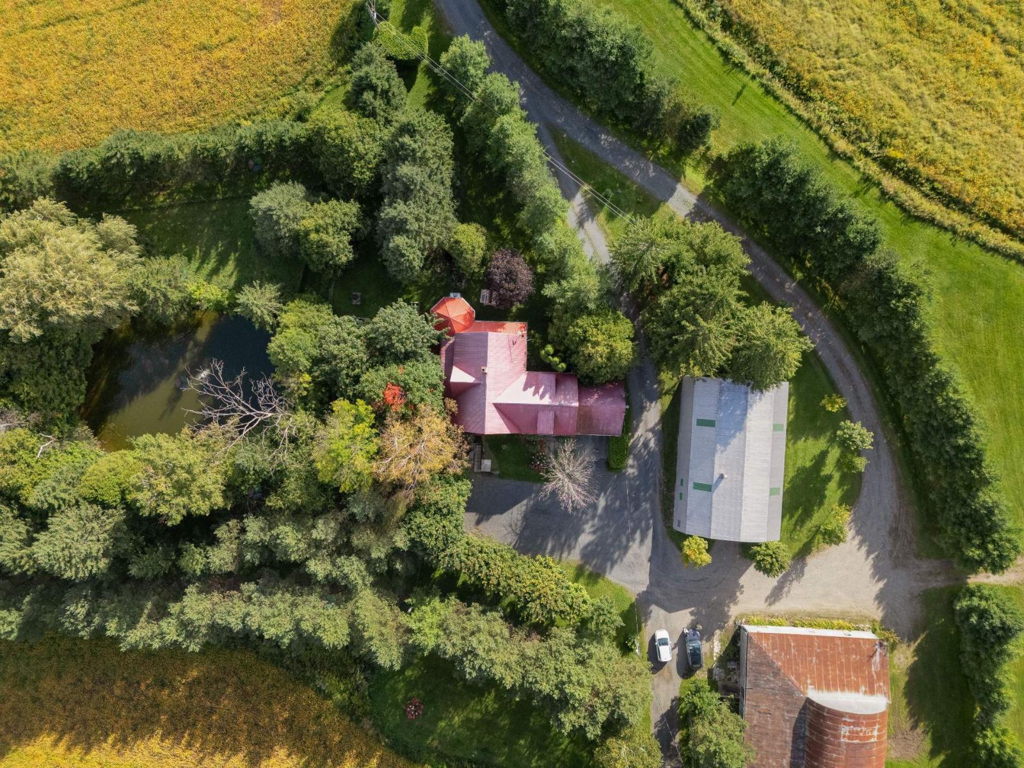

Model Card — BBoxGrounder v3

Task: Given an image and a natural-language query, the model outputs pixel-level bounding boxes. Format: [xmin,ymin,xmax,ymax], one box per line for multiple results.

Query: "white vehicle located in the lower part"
[654,628,671,662]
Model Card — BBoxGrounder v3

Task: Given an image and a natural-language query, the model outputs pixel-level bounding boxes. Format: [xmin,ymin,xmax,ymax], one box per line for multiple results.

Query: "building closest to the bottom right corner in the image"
[736,625,893,768]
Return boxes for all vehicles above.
[684,630,703,668]
[654,628,671,662]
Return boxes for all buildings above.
[437,319,626,442]
[672,379,791,542]
[736,625,893,768]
